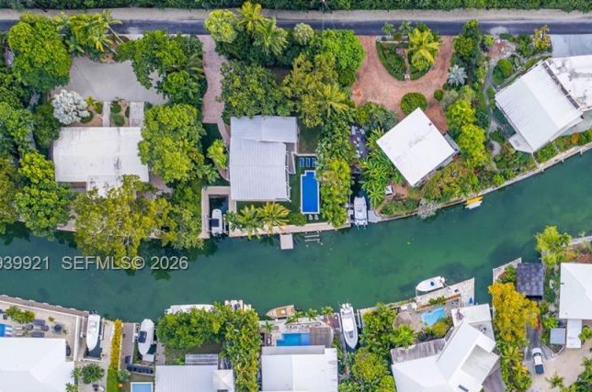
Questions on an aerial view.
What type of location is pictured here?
residential area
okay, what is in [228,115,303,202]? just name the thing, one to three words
house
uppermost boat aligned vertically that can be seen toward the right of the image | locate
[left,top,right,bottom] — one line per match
[354,197,368,226]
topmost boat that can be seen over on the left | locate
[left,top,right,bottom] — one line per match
[208,208,223,237]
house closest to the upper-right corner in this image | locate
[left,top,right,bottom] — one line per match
[495,54,592,152]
